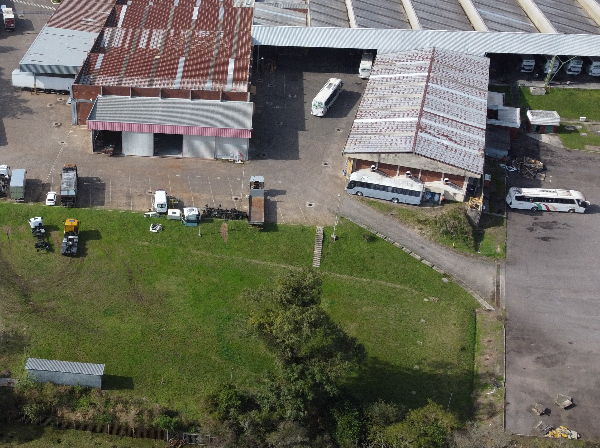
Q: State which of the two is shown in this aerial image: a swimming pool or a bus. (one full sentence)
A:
Of the two, only a bus appears.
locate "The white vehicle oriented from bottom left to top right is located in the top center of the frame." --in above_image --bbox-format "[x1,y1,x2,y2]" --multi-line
[312,73,349,112]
